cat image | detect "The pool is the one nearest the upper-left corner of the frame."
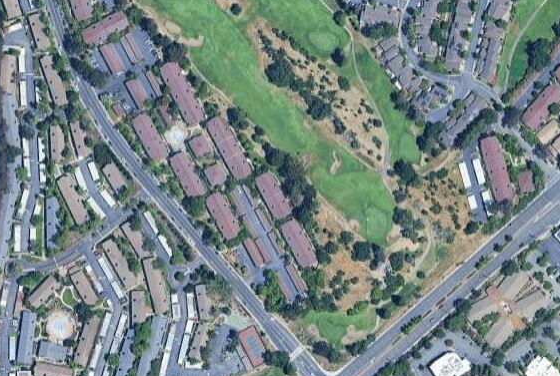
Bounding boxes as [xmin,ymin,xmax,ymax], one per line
[162,123,188,148]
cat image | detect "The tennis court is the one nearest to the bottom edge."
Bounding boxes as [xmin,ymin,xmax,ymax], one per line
[237,326,263,365]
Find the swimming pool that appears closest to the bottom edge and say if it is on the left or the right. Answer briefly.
left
